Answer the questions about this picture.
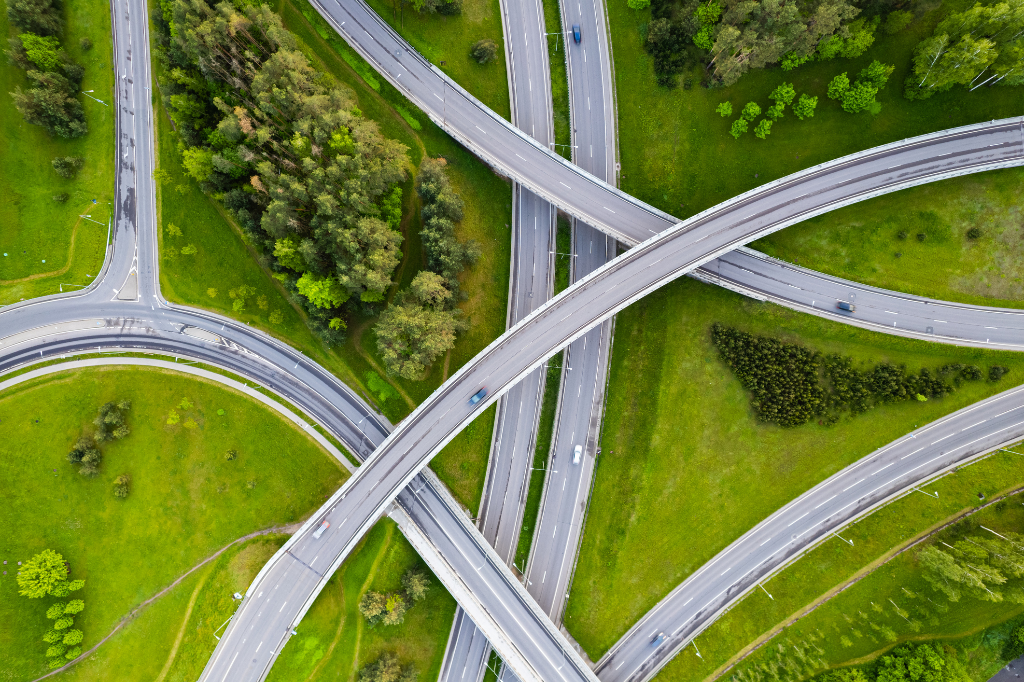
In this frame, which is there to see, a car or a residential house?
car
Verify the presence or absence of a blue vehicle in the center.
Yes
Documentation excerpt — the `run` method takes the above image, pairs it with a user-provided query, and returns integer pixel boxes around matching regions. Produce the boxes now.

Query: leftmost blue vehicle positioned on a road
[468,387,487,404]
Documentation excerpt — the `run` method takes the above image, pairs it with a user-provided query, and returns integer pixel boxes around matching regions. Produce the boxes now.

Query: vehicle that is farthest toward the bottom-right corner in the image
[650,631,667,648]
